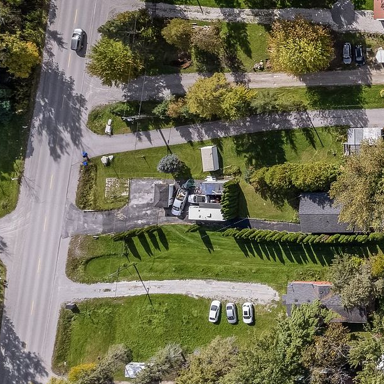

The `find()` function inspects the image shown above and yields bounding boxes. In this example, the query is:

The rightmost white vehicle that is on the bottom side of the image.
[241,301,254,325]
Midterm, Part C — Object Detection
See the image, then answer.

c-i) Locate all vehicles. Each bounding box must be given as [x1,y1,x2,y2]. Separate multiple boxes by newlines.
[342,42,353,64]
[354,43,364,64]
[172,187,189,216]
[241,301,254,325]
[225,301,237,325]
[185,194,212,205]
[70,27,85,50]
[208,299,221,323]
